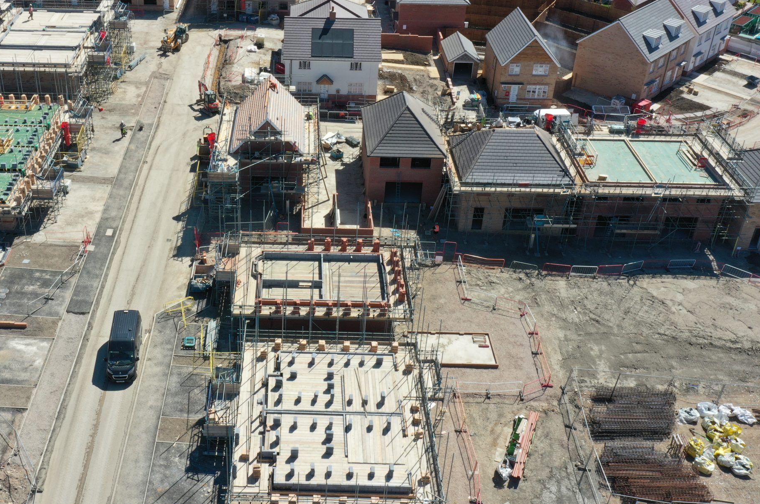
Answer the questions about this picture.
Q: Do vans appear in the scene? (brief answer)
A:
Yes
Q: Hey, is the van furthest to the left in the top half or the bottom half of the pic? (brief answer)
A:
bottom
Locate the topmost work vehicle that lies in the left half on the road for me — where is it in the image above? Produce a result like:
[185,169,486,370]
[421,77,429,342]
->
[159,22,191,48]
